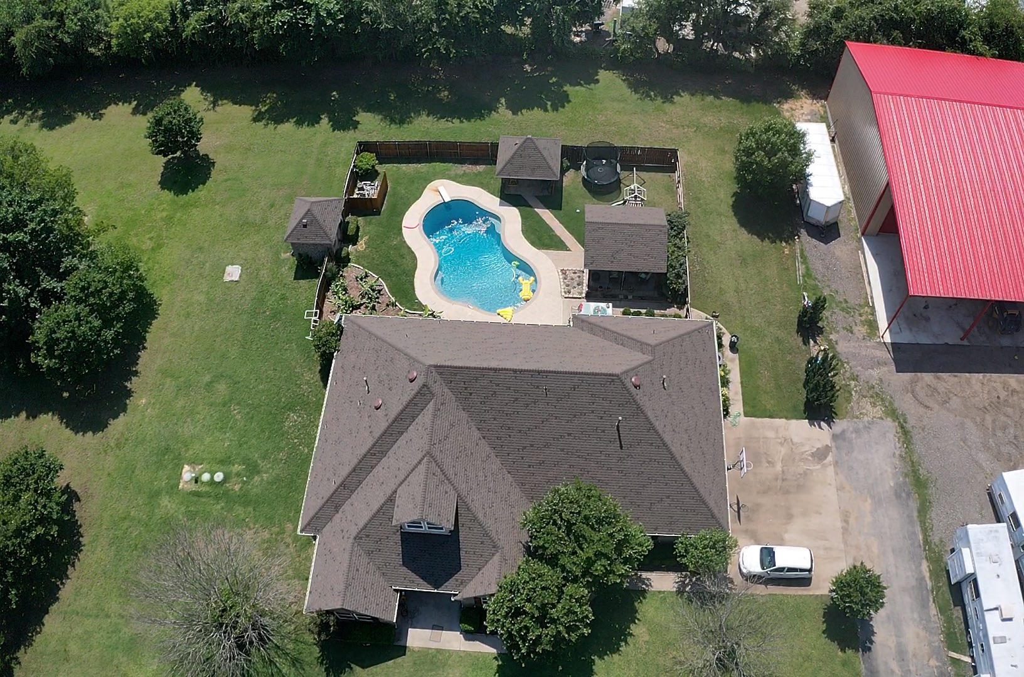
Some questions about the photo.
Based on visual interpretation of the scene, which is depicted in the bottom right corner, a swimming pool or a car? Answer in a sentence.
The one visible in the bottom right corner is a car.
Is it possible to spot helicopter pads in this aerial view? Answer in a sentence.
No, the picture doesn't show any helicopter pad.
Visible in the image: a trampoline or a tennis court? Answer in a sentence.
Visible in the photo is a trampoline.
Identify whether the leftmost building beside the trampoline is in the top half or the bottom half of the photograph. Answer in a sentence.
The leftmost building beside the trampoline is in the top half of the image.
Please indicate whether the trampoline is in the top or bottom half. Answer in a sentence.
You can find the trampoline in the top half.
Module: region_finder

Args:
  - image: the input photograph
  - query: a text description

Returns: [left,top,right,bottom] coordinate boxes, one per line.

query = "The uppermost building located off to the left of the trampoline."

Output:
[495,133,561,198]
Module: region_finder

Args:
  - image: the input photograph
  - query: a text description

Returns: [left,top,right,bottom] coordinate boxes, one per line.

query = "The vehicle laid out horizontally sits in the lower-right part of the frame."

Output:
[740,550,819,588]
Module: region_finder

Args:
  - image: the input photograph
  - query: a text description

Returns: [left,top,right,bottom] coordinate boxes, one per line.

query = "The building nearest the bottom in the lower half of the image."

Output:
[297,313,732,628]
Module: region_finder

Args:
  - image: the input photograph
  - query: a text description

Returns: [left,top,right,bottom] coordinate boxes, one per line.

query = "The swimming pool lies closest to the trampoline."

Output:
[419,195,541,317]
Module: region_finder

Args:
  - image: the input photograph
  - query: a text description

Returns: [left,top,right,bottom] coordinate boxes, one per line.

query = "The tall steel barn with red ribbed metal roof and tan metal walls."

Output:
[827,40,1024,342]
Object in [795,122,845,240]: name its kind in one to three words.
trailer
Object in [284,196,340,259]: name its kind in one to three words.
shed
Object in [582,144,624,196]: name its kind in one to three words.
trampoline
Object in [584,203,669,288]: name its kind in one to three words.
building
